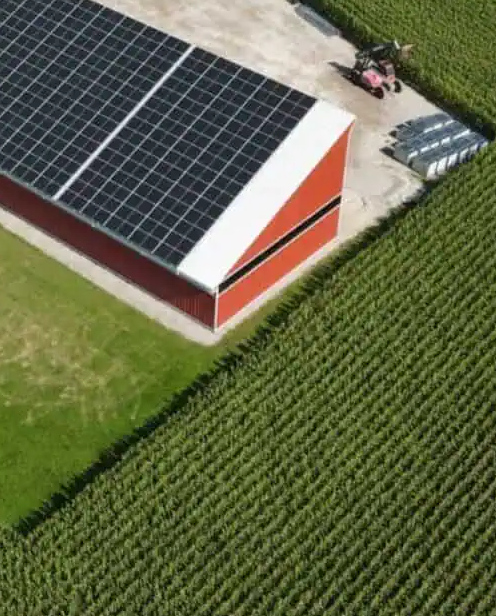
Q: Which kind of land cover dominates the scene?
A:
farmland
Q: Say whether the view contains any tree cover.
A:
No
